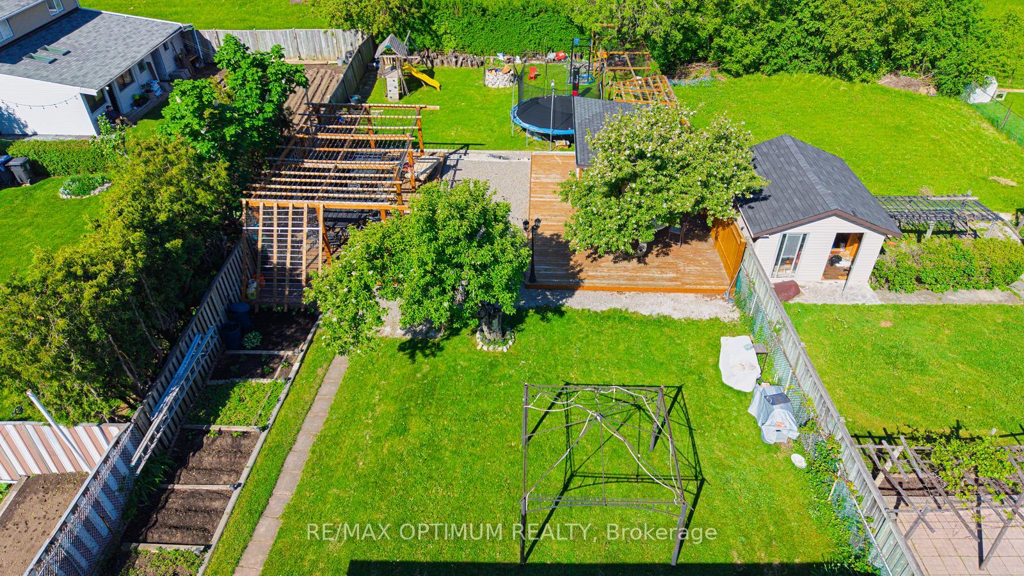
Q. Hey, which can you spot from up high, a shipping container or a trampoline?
trampoline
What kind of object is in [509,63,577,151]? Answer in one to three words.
trampoline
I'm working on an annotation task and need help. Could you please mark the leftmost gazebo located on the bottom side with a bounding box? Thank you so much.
[517,381,696,568]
